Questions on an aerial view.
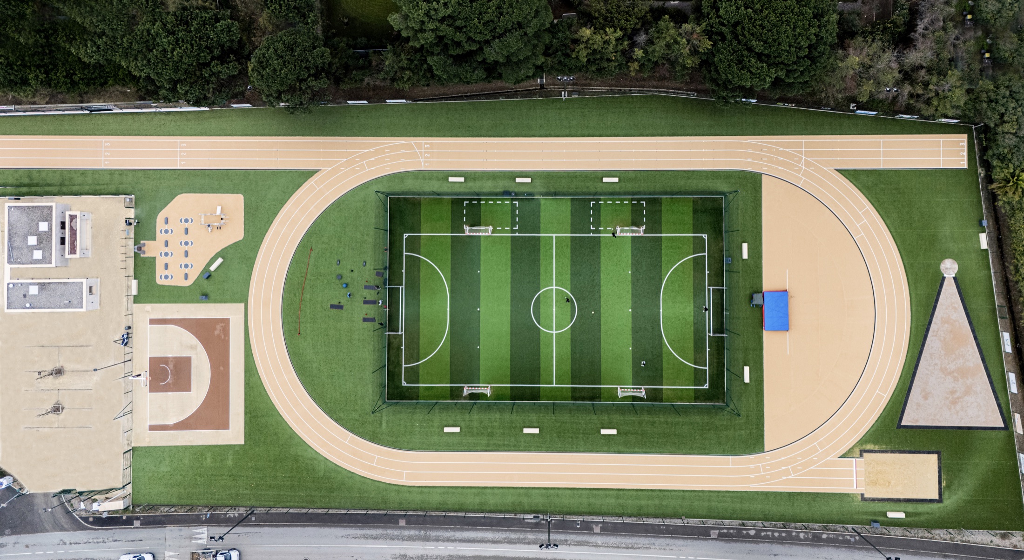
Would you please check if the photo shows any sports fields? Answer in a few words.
Yes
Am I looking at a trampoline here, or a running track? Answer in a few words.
running track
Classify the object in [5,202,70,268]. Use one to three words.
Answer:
building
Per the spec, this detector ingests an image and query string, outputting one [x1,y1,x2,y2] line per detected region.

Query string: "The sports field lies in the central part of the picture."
[386,197,725,404]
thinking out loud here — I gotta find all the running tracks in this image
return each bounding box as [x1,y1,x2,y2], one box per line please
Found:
[247,169,911,490]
